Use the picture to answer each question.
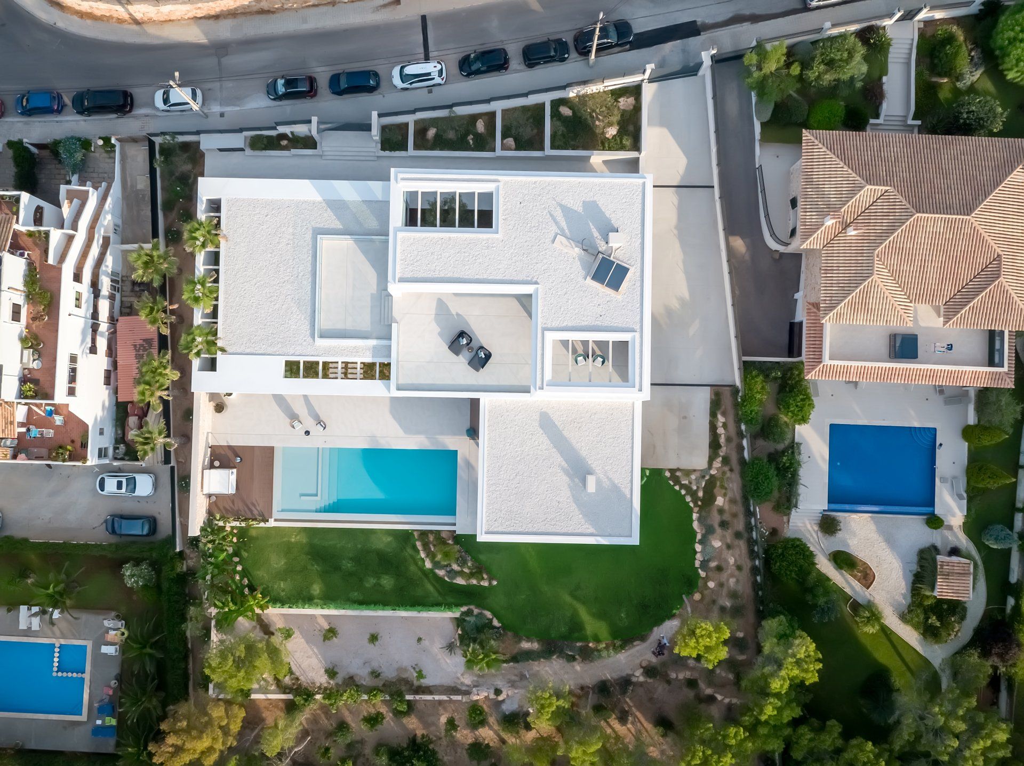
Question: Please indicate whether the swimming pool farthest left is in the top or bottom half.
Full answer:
The swimming pool farthest left sits in the bottom half of the picture.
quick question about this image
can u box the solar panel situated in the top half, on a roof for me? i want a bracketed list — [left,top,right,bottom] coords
[585,251,632,298]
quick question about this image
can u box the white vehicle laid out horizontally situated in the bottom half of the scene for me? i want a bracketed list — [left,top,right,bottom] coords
[98,472,156,497]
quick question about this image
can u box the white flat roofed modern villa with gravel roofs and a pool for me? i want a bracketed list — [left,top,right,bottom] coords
[191,169,652,545]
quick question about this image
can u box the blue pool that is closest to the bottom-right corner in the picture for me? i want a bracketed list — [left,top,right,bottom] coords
[822,420,941,524]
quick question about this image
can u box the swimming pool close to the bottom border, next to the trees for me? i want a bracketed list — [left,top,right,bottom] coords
[0,607,119,753]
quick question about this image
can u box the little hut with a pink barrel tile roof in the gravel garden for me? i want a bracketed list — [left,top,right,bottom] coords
[924,554,973,602]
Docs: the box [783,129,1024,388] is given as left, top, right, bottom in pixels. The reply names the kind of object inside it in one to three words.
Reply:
house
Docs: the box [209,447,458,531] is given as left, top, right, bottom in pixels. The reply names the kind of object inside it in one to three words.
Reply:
swimming pool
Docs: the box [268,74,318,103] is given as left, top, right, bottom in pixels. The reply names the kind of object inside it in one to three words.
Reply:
car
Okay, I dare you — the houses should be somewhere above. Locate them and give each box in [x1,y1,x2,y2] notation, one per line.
[191,169,652,545]
[783,129,1024,388]
[0,139,141,466]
